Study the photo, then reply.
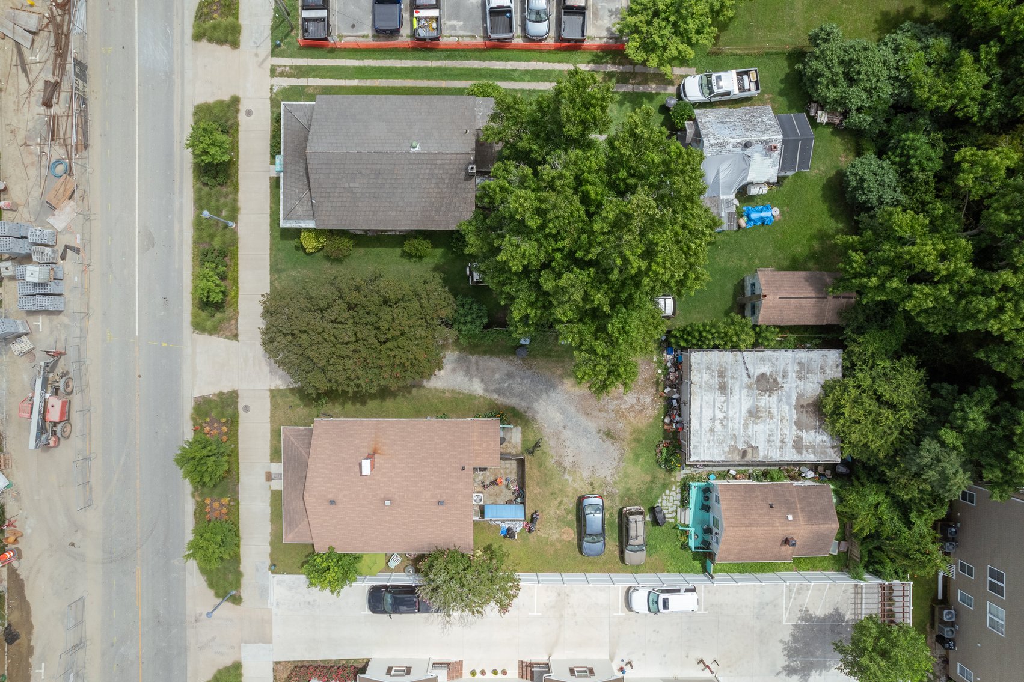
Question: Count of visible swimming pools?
0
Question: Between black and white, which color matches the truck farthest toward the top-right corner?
white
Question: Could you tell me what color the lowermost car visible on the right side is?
white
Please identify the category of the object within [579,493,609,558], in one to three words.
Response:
car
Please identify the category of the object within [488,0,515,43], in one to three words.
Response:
truck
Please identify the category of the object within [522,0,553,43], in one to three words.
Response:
car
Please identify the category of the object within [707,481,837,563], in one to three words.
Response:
house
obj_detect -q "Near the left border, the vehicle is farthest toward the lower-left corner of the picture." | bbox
[14,342,73,453]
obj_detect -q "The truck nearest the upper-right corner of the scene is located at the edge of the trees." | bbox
[678,67,764,106]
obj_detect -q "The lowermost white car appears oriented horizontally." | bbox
[627,585,700,619]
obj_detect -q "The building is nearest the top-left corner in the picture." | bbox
[278,94,502,230]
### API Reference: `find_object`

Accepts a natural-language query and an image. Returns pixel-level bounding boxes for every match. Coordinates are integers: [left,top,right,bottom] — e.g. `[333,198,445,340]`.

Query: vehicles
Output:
[413,0,442,43]
[14,342,73,453]
[559,0,587,44]
[641,292,676,320]
[620,504,650,566]
[678,67,764,106]
[522,0,553,43]
[367,585,442,618]
[374,0,404,39]
[301,0,332,46]
[488,0,515,43]
[579,493,609,558]
[527,510,541,536]
[627,585,700,619]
